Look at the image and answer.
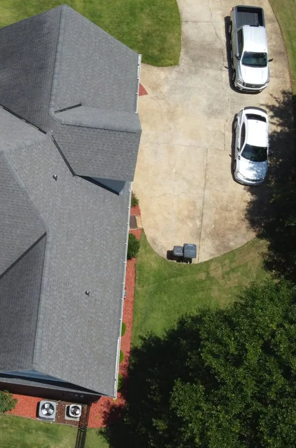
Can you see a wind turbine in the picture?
No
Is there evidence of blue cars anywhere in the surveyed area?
No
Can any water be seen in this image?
No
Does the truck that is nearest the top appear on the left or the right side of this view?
right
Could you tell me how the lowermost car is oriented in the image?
from top to bottom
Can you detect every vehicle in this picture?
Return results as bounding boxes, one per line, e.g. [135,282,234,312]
[228,5,274,95]
[230,105,273,190]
